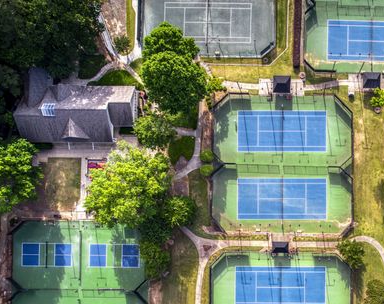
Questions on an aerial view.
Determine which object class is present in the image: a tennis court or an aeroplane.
tennis court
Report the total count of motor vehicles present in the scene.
0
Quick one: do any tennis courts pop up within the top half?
Yes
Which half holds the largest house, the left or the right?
left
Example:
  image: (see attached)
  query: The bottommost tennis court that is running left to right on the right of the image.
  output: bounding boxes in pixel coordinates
[211,253,351,304]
